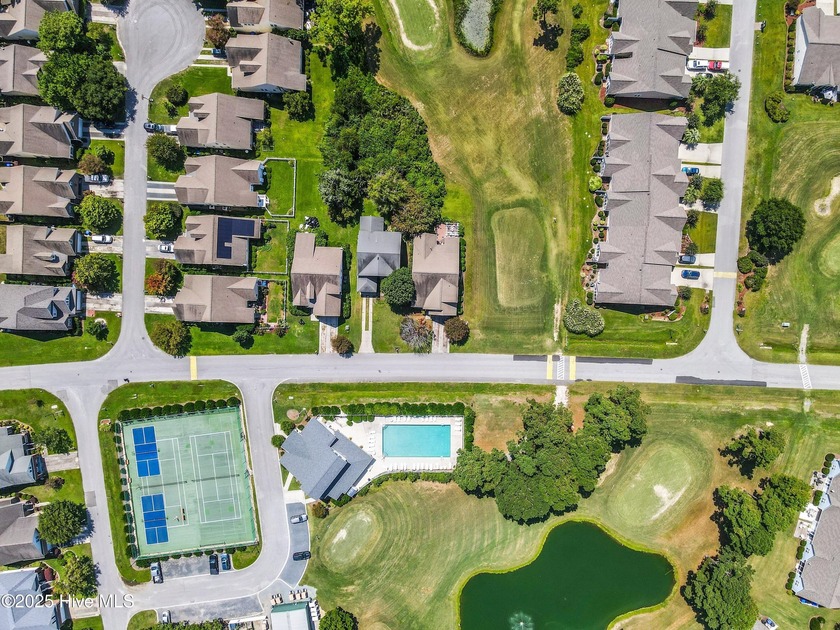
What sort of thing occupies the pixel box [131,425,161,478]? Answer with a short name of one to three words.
sports court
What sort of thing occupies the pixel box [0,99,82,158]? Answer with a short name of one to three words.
house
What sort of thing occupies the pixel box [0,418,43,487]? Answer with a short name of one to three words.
house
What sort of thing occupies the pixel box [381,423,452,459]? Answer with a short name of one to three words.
swimming pool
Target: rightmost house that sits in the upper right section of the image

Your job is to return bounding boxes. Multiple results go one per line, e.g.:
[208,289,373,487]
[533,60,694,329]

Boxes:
[795,2,840,88]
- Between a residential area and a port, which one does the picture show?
residential area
